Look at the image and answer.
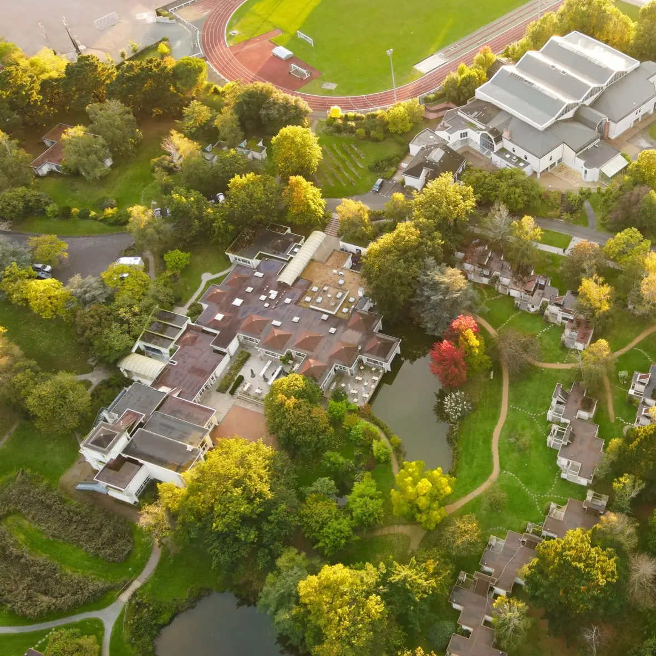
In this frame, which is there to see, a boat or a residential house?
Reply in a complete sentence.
Of the two, only a residential house appears.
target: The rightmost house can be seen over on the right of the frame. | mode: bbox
[627,365,656,421]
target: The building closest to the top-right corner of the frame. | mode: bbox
[402,29,656,188]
